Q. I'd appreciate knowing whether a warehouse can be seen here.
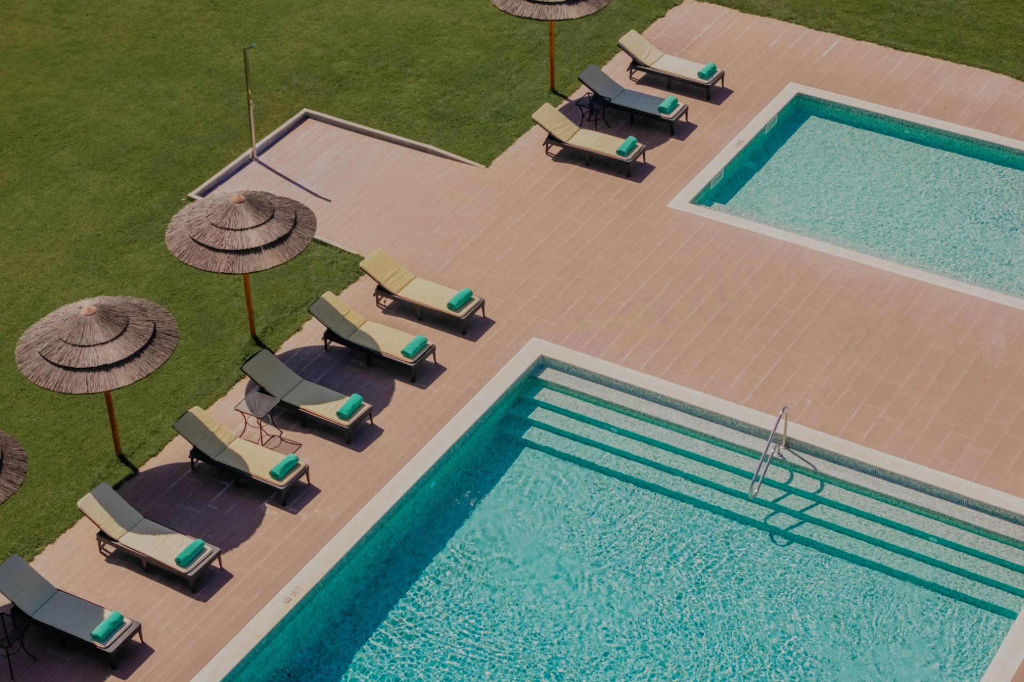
No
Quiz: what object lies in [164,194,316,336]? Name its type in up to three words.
umbrella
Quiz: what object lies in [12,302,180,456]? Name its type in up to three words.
umbrella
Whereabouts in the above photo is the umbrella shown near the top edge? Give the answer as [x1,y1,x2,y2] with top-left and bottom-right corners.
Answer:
[489,0,609,89]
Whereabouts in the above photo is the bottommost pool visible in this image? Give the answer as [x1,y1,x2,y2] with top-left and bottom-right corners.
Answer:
[190,338,1024,682]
